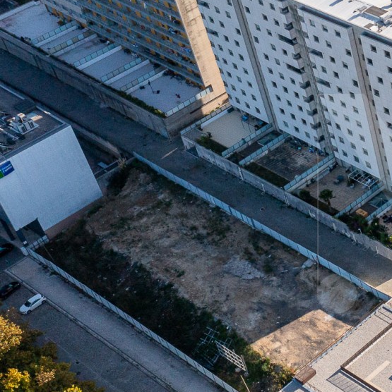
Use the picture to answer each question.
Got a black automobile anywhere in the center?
No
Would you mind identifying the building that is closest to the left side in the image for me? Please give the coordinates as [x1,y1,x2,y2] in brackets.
[0,85,104,248]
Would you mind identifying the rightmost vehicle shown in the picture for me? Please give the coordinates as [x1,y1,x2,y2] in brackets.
[21,294,46,315]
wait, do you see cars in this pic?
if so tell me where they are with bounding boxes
[21,294,46,315]
[0,241,22,257]
[0,279,27,301]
